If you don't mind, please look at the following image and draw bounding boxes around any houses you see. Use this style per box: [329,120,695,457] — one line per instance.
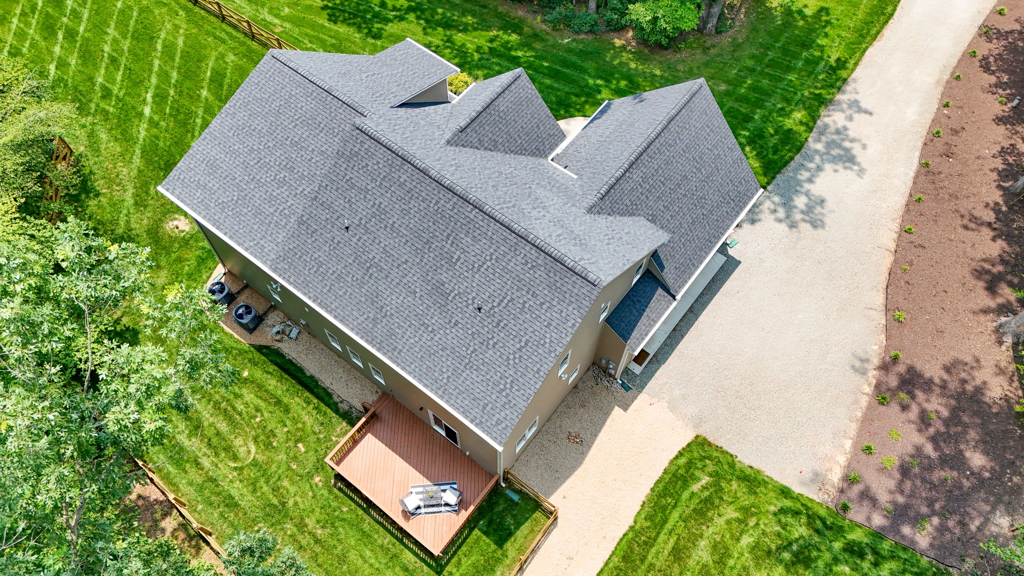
[158,38,765,494]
